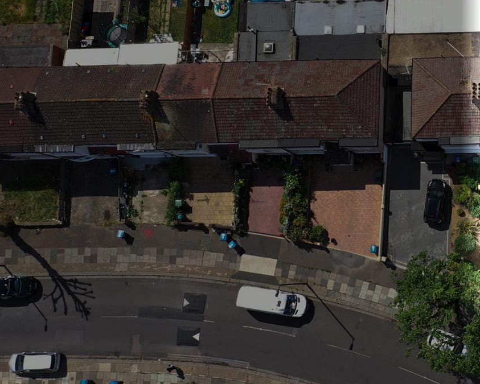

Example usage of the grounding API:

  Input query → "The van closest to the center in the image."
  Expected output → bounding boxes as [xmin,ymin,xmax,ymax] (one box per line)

[231,284,309,322]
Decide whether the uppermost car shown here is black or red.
black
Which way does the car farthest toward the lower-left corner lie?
from side to side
